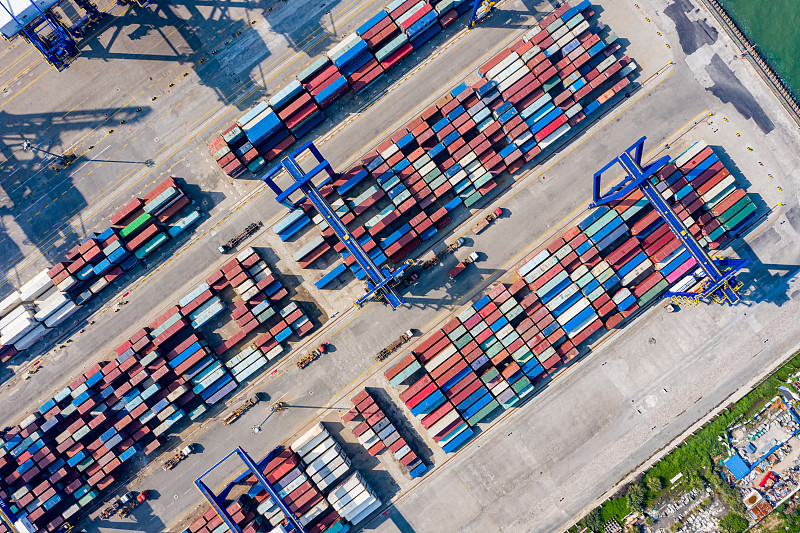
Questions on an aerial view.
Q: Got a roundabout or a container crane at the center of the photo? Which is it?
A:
container crane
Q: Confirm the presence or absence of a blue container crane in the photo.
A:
Yes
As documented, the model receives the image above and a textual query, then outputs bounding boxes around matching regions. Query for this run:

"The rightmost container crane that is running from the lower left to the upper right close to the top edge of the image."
[466,0,506,30]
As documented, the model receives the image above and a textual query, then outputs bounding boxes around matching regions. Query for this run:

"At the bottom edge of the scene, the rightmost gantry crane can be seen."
[190,445,309,533]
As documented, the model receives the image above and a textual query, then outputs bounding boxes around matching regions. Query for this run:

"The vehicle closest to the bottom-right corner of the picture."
[756,470,780,492]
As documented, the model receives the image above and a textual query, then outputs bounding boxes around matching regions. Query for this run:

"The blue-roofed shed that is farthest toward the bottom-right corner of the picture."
[723,453,752,481]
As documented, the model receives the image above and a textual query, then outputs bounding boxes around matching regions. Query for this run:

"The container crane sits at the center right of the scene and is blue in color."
[593,138,748,310]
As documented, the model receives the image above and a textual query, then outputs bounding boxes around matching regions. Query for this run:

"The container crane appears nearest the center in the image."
[262,138,410,310]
